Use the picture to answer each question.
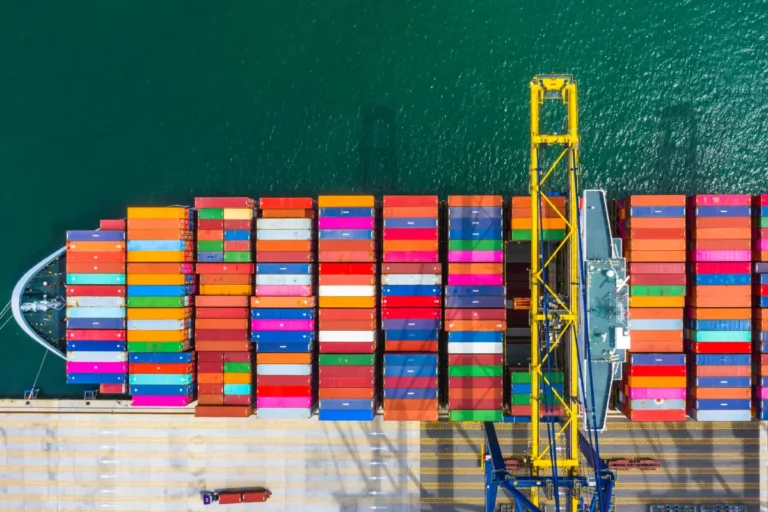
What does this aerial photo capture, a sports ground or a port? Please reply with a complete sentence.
This looks like a port.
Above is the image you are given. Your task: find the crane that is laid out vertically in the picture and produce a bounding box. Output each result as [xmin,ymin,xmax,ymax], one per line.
[483,76,618,512]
